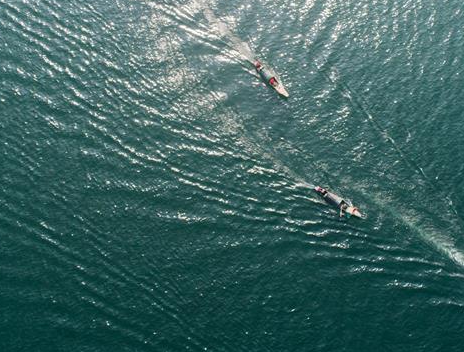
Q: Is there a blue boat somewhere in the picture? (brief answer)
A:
No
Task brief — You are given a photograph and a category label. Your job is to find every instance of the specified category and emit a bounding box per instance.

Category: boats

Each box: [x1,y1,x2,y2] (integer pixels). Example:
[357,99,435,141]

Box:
[254,60,289,97]
[313,185,367,219]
